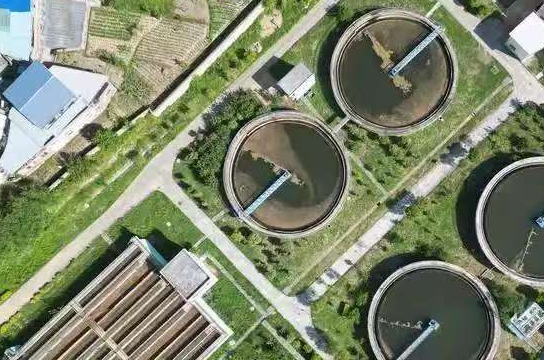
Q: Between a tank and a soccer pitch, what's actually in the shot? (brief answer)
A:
tank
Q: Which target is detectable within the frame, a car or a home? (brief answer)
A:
home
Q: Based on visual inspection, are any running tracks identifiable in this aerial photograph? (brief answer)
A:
No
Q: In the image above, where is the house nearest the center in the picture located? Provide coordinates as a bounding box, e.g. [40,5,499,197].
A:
[278,63,313,103]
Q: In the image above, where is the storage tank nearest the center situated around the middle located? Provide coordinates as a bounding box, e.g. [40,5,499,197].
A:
[223,110,351,238]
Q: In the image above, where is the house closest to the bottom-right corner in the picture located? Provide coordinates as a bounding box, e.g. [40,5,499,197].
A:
[504,301,544,337]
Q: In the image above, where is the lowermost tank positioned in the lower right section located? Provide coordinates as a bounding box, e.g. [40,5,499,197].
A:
[367,259,501,360]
